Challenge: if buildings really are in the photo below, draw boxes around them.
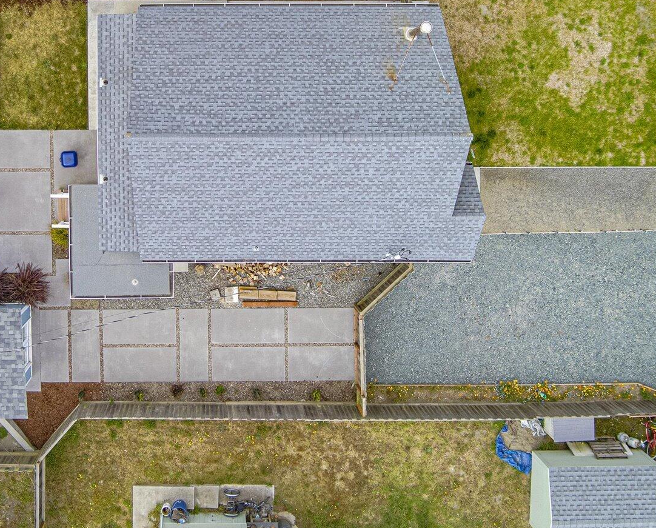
[527,449,656,528]
[0,292,47,418]
[156,513,247,528]
[69,1,483,300]
[536,416,592,440]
